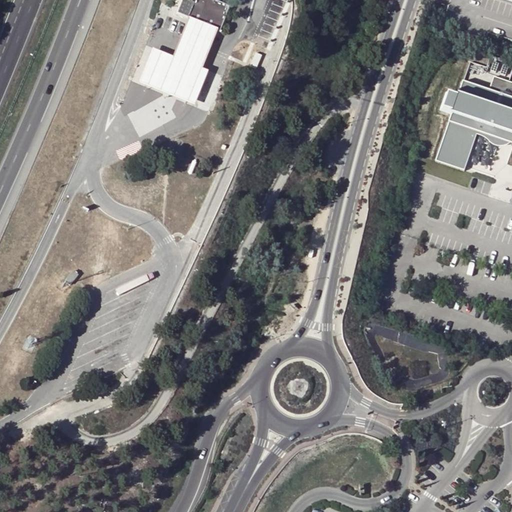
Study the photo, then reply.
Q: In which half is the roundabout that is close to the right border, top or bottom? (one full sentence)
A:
Seen from above, the roundabout that is close to the right border lies in the bottom half of the view.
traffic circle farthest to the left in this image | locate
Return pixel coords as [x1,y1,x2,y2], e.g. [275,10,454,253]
[168,322,402,512]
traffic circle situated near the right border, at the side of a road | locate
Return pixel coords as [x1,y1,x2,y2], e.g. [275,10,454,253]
[460,358,512,425]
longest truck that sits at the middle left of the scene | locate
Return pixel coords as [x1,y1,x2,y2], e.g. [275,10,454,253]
[112,273,151,296]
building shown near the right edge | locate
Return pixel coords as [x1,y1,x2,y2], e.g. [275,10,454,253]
[436,62,512,170]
